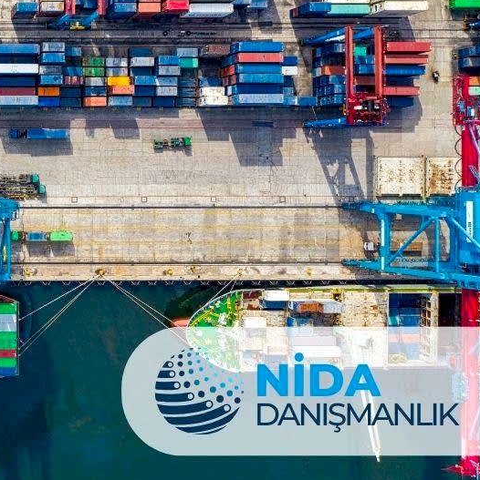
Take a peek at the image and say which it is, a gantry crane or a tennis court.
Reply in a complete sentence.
The image shows a gantry crane.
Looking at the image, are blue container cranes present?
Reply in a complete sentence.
Yes, a blue container crane appears in the view.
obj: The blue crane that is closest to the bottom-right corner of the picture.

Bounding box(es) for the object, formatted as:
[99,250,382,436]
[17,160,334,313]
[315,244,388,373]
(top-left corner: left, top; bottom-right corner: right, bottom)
[349,78,480,480]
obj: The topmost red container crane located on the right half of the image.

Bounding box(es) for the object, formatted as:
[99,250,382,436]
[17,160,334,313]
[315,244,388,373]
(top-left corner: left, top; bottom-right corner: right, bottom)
[302,25,387,128]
